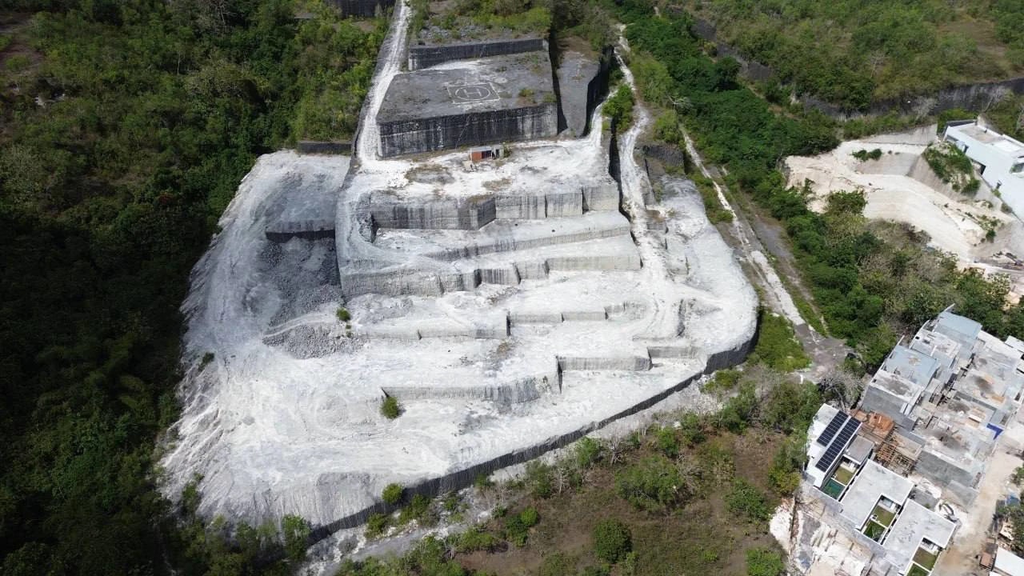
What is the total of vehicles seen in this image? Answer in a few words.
0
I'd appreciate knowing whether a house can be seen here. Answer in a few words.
Yes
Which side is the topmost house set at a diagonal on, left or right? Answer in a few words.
right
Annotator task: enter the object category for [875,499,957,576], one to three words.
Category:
house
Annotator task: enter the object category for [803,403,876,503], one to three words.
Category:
house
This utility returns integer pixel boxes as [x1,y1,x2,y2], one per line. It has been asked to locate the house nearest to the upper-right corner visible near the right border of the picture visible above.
[938,120,1024,226]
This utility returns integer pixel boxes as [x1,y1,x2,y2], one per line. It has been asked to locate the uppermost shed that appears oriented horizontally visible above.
[465,142,503,160]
